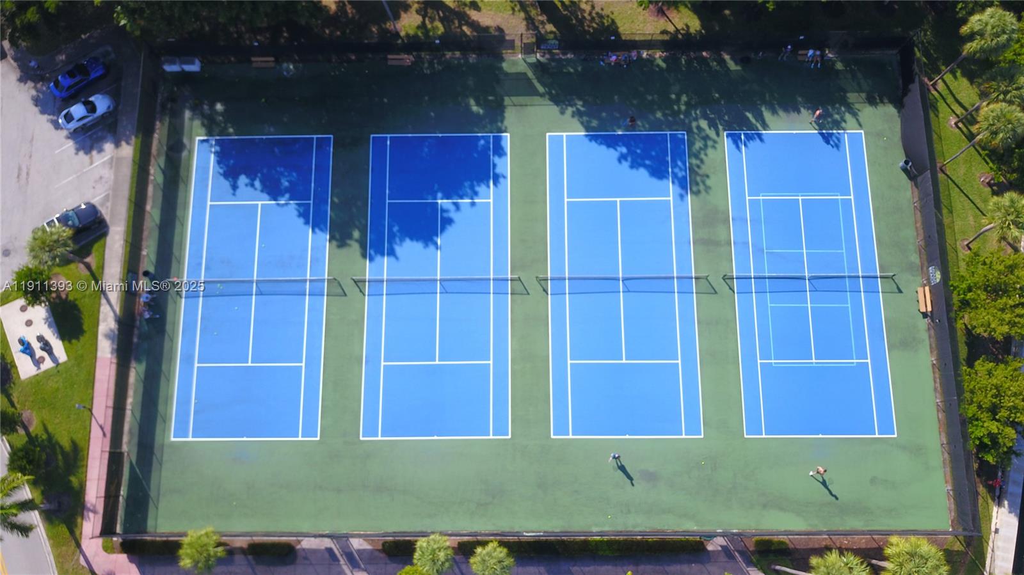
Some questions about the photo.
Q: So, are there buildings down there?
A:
No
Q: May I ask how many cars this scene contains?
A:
3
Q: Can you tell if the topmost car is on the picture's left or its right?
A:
left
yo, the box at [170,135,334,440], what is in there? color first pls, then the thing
blue tennis court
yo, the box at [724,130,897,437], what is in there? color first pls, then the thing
blue tennis court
